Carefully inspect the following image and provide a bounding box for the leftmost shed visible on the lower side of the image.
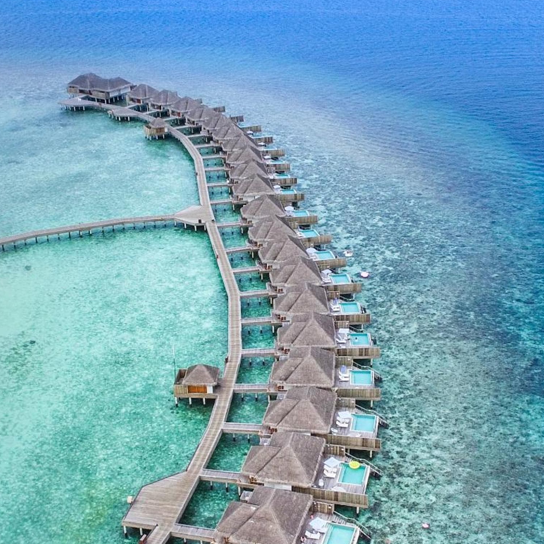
[170,352,222,415]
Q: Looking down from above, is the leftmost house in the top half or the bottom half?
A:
top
